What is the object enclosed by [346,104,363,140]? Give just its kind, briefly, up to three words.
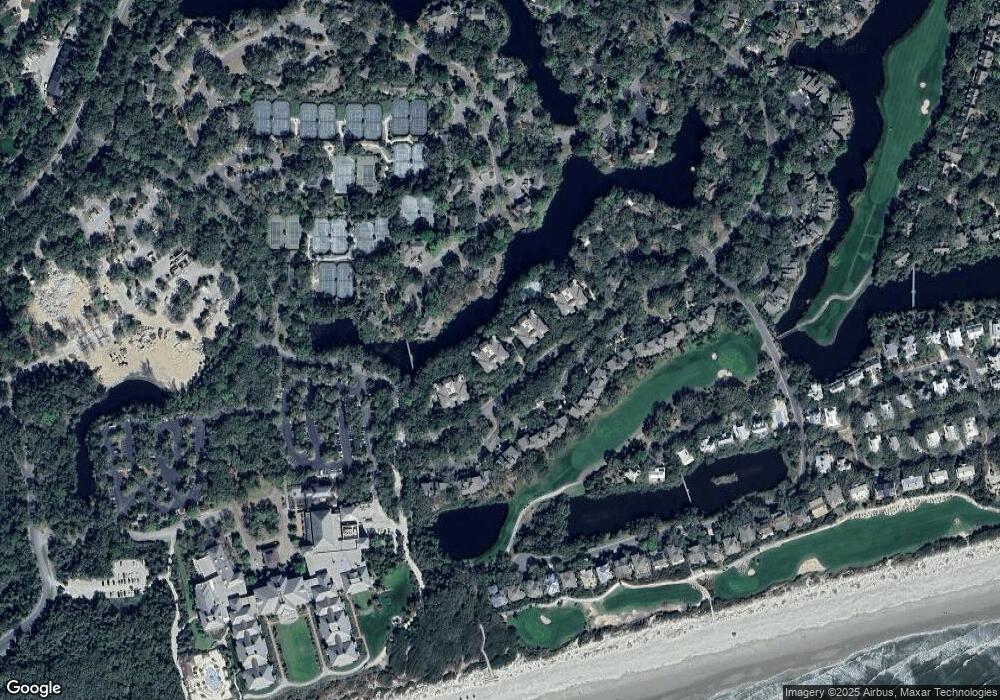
tennis court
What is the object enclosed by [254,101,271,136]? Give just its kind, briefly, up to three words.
tennis court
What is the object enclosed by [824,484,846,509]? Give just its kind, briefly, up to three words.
house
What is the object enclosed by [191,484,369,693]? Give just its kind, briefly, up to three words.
building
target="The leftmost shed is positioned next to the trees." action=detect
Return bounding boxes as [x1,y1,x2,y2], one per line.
[47,41,75,97]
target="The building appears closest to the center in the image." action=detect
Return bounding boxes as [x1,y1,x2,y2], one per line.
[475,336,508,369]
